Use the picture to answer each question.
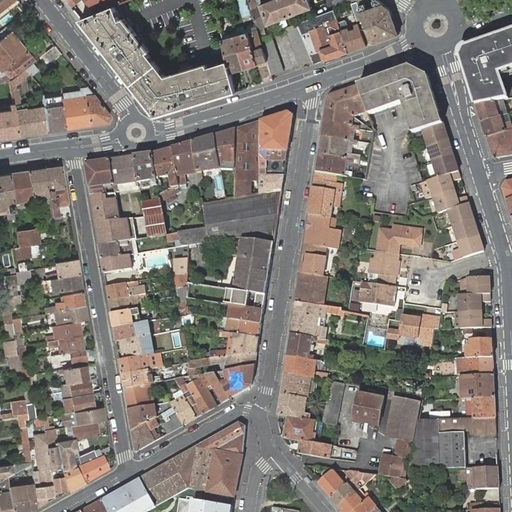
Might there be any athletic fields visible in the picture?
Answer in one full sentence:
No, there's no athletic field here.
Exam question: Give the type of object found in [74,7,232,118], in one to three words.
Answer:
building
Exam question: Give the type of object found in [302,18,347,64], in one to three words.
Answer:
house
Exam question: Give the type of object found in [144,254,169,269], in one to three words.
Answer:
swimming pool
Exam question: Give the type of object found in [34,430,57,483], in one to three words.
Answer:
barn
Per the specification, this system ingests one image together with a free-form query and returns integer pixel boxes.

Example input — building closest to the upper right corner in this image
[456,24,512,102]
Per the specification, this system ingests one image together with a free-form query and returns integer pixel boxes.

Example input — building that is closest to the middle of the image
[232,238,273,292]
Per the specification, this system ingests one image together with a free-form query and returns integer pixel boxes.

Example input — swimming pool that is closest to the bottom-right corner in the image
[366,330,387,348]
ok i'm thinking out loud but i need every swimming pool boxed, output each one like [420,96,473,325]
[213,174,224,192]
[2,253,11,268]
[366,330,387,348]
[144,254,169,269]
[238,0,250,18]
[170,331,182,348]
[0,12,14,27]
